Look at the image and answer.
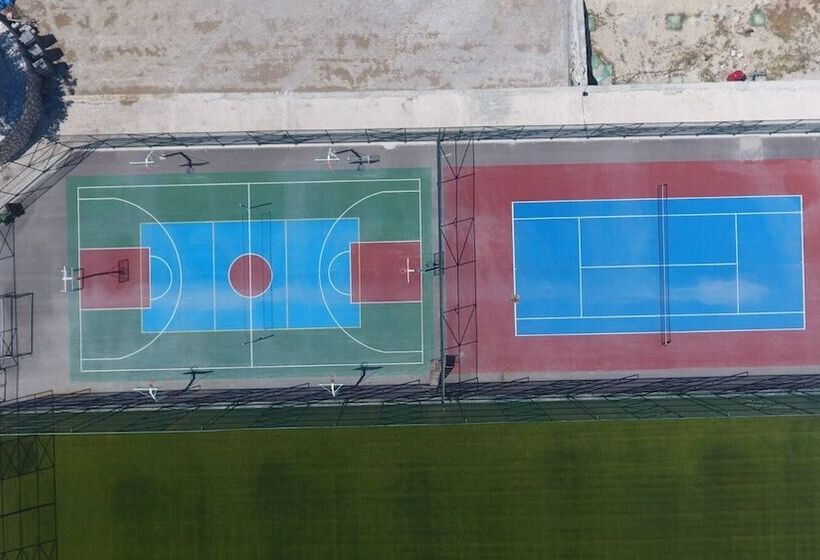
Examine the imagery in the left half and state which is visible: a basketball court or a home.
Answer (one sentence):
You can see a basketball court in the left half.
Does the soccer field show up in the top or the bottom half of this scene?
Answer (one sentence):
Seen from above, the soccer field lies in the bottom half of the view.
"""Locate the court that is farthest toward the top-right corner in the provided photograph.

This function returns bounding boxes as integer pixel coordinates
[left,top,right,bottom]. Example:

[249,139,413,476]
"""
[445,158,820,376]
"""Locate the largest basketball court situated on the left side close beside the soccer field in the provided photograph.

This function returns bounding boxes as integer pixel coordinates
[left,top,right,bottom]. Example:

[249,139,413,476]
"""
[66,168,436,382]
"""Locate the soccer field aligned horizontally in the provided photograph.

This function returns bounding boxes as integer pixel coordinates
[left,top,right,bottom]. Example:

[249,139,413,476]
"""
[0,397,820,560]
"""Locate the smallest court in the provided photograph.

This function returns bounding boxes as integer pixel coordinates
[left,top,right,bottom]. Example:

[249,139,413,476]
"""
[139,217,361,333]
